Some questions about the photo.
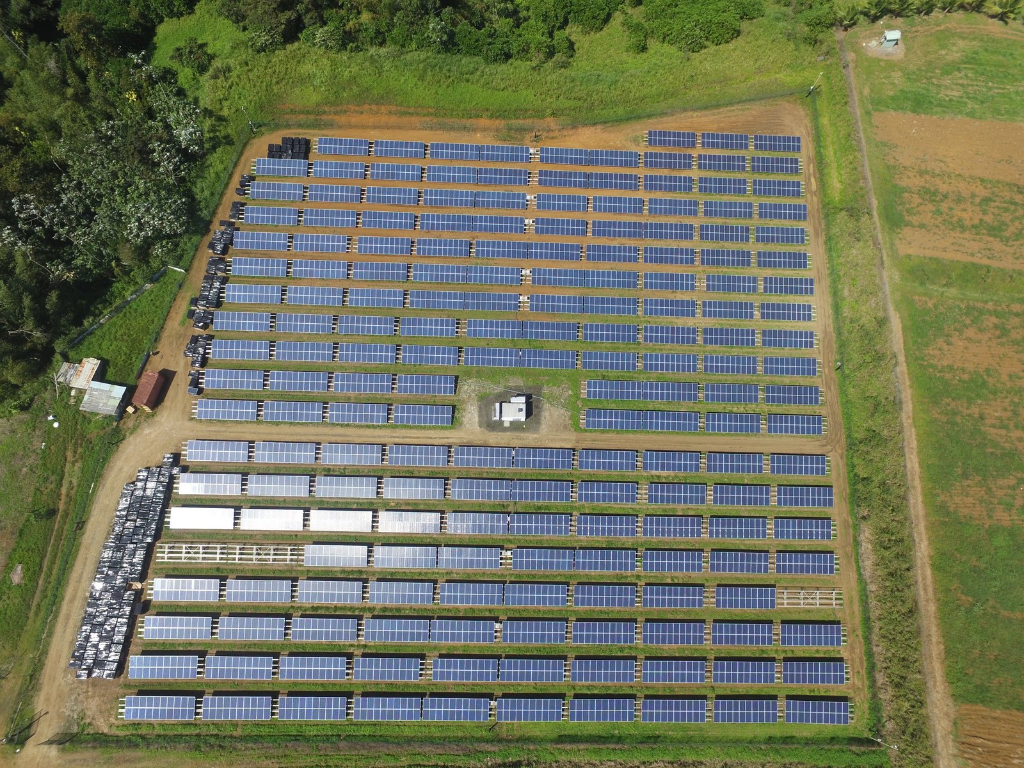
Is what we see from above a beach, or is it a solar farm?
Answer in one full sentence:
The picture captures a solar farm.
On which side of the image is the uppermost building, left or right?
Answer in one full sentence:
The uppermost building sits on the right side.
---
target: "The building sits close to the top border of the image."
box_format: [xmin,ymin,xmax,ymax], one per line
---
[875,29,903,49]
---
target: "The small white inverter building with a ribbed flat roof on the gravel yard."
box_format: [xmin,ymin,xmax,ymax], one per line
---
[502,403,526,421]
